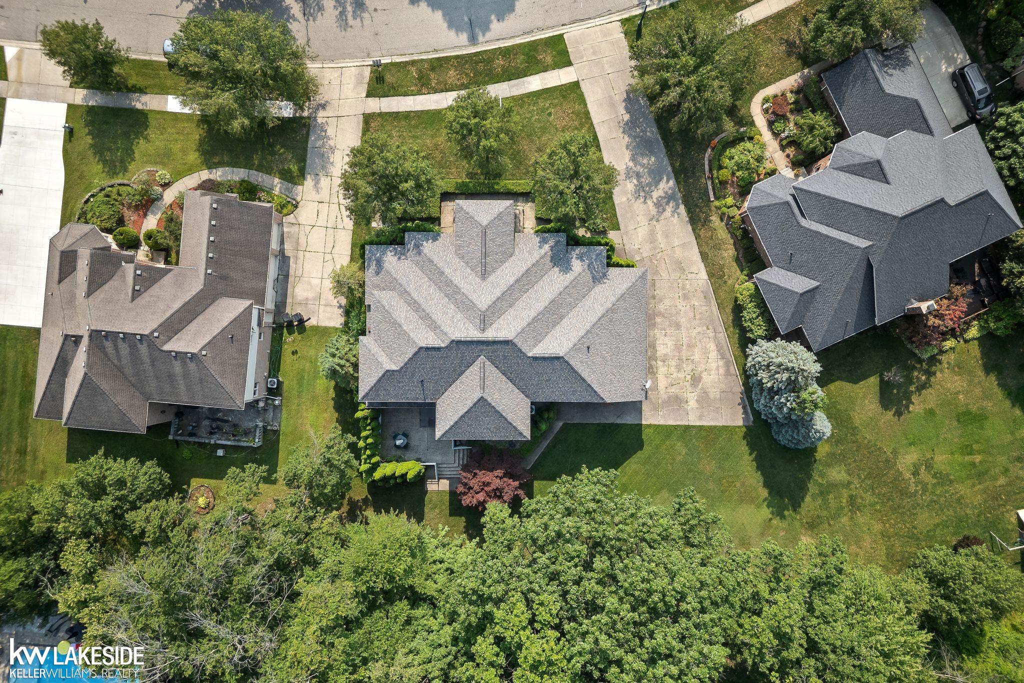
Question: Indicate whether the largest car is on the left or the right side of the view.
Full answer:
The largest car appears in the right half of the scene.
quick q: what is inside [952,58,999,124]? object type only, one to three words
car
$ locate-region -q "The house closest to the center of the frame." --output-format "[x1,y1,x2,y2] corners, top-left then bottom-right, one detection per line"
[358,199,652,441]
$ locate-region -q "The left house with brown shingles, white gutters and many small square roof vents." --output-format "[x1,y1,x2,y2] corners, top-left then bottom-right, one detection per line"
[33,189,283,434]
